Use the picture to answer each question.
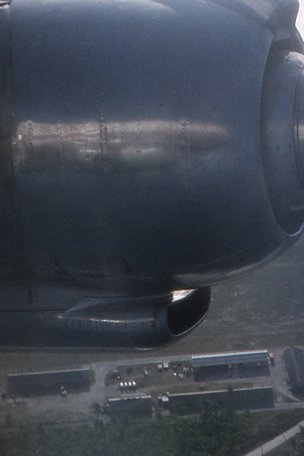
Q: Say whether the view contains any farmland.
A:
No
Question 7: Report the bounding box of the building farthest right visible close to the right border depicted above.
[280,350,304,395]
